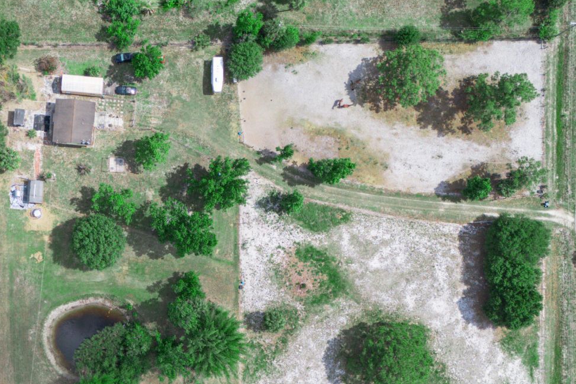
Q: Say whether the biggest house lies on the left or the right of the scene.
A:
left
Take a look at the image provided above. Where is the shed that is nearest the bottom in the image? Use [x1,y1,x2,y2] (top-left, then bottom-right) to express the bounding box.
[29,180,44,204]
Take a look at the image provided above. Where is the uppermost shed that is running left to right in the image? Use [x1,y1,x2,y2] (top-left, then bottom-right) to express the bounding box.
[61,75,103,98]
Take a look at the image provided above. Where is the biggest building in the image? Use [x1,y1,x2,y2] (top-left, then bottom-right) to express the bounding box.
[52,99,95,146]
